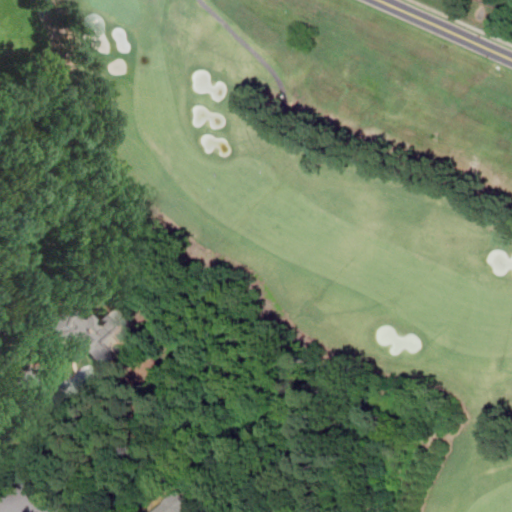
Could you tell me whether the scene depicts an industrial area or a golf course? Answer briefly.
golf course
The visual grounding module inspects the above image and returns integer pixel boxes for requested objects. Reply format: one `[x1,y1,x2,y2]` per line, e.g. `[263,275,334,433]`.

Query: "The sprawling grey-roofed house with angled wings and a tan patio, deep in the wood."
[54,308,125,362]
